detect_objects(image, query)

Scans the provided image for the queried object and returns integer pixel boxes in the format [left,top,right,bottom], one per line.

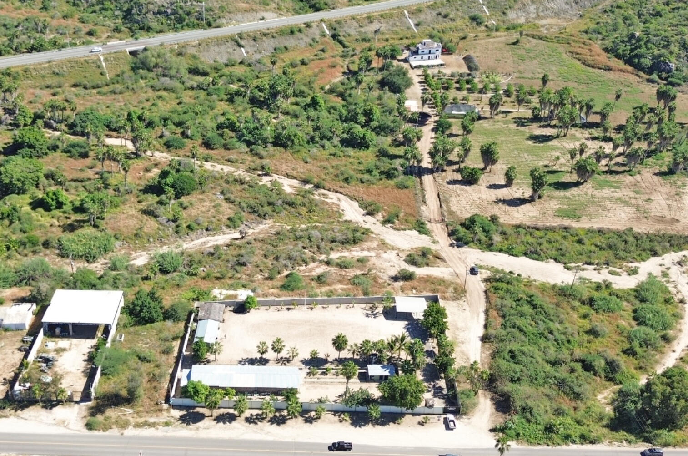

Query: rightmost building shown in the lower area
[395,297,426,321]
